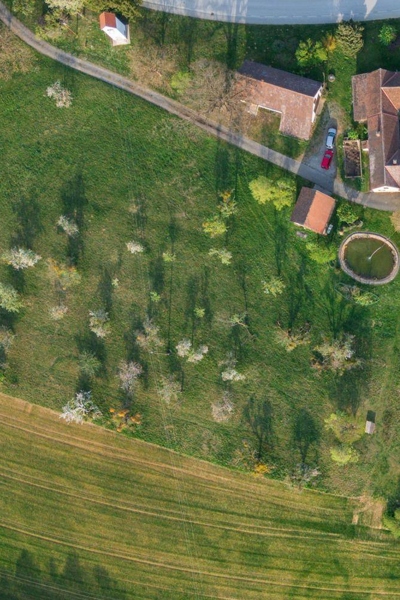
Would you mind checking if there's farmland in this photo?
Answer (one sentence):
Yes, there's farmland in this view.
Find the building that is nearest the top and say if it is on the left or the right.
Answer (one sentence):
The building that is nearest the top is on the left side of the image.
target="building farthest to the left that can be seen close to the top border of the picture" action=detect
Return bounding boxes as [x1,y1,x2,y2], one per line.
[100,12,126,44]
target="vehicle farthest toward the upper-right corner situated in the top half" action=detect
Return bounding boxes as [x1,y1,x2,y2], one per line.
[325,127,337,150]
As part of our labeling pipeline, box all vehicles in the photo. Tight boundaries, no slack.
[320,147,334,170]
[325,127,337,150]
